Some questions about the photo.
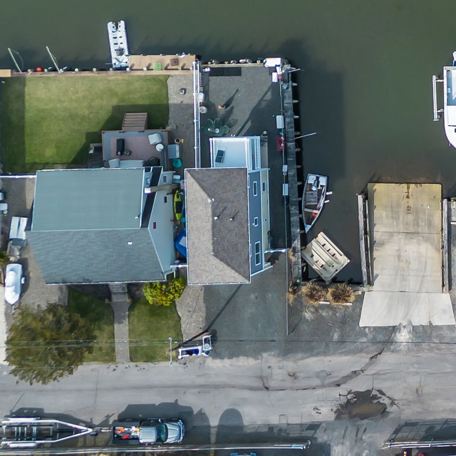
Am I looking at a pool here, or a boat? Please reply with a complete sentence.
I can see a boat in this picture.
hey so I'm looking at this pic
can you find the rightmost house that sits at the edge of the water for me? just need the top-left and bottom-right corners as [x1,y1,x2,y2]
[185,137,285,286]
